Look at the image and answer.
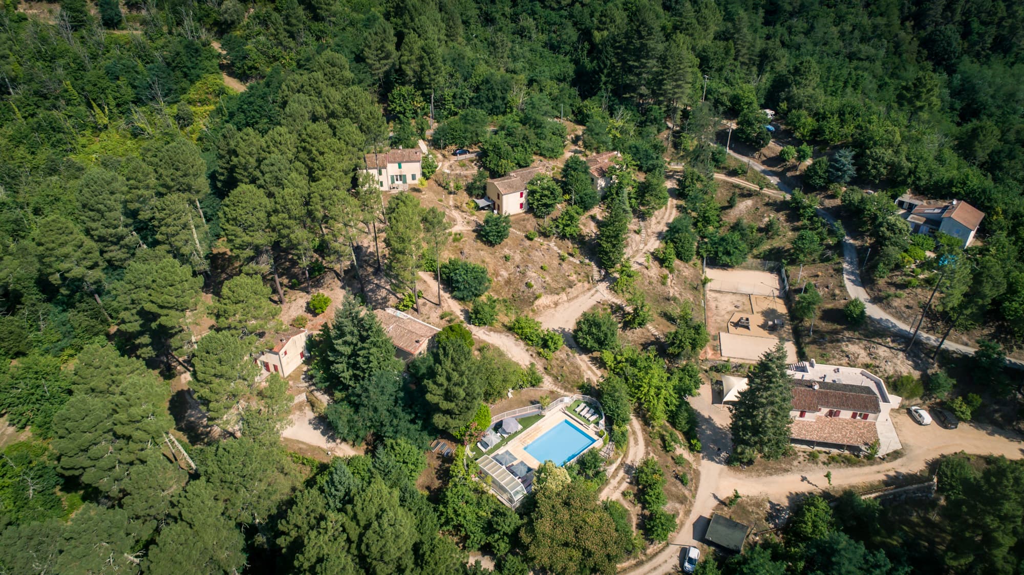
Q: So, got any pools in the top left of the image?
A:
No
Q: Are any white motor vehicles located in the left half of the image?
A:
No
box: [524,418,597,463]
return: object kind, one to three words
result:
swimming pool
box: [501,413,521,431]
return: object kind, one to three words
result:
umbrella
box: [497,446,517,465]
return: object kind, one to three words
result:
umbrella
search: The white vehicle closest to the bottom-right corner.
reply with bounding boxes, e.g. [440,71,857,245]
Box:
[911,405,936,427]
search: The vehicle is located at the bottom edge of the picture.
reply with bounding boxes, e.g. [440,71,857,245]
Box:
[684,544,700,574]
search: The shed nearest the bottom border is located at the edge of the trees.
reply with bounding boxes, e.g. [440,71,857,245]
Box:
[704,514,748,556]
